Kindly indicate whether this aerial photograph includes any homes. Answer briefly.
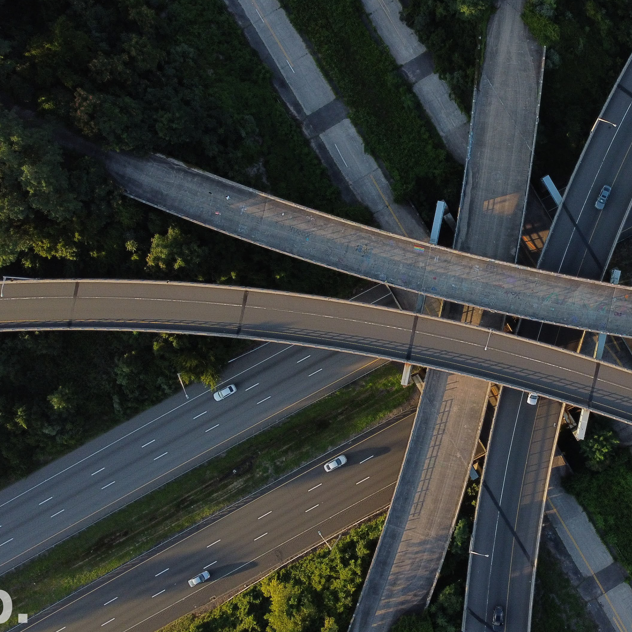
No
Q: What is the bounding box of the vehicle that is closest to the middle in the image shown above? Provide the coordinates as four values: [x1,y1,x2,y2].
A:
[214,384,237,401]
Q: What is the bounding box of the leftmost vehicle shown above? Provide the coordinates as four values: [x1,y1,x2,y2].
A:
[188,570,210,586]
